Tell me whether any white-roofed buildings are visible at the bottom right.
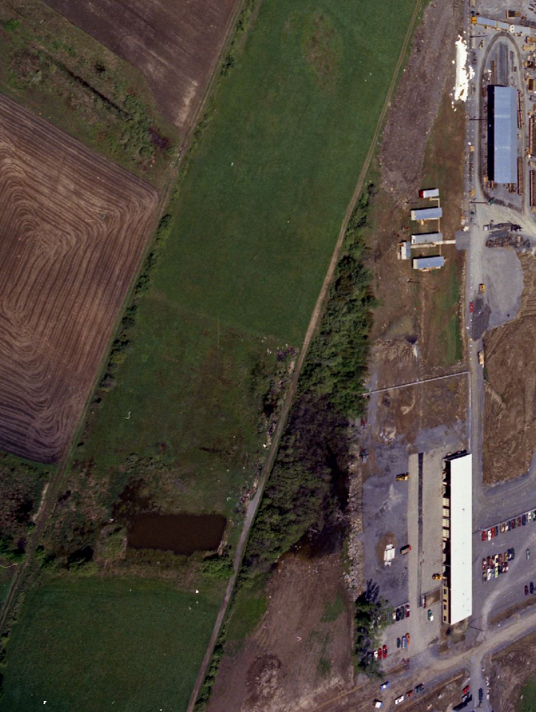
Yes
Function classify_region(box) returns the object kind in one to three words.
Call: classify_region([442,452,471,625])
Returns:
building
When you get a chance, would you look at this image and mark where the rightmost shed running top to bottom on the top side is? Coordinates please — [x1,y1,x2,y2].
[488,86,516,184]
